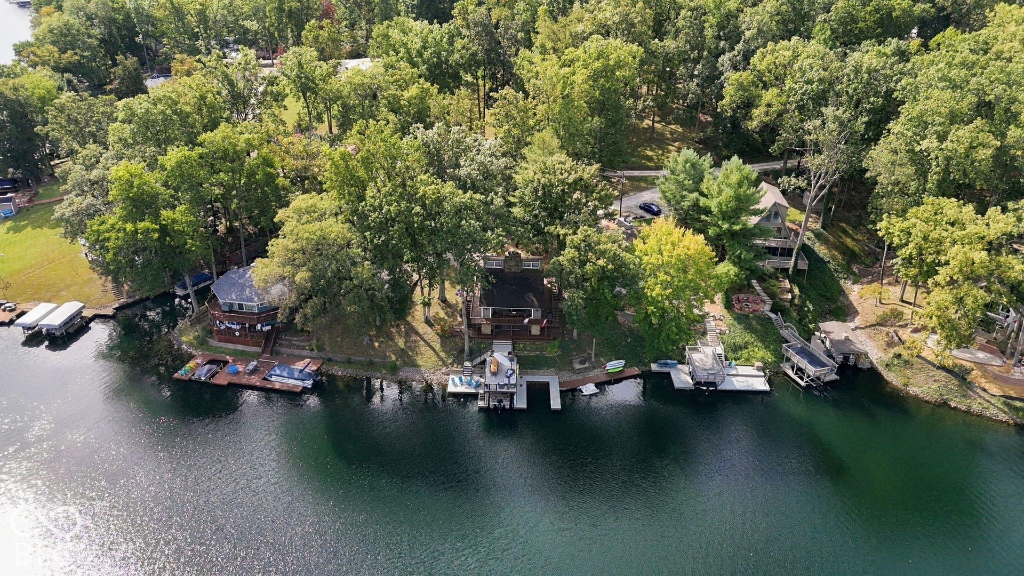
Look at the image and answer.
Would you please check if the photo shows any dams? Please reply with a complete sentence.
No, no dam is visible in the scene.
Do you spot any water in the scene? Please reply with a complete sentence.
Yes, there's water in this view.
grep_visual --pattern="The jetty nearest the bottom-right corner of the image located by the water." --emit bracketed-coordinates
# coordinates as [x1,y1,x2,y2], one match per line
[774,341,838,392]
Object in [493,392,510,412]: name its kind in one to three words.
boat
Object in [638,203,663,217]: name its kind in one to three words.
car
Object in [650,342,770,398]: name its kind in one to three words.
pier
